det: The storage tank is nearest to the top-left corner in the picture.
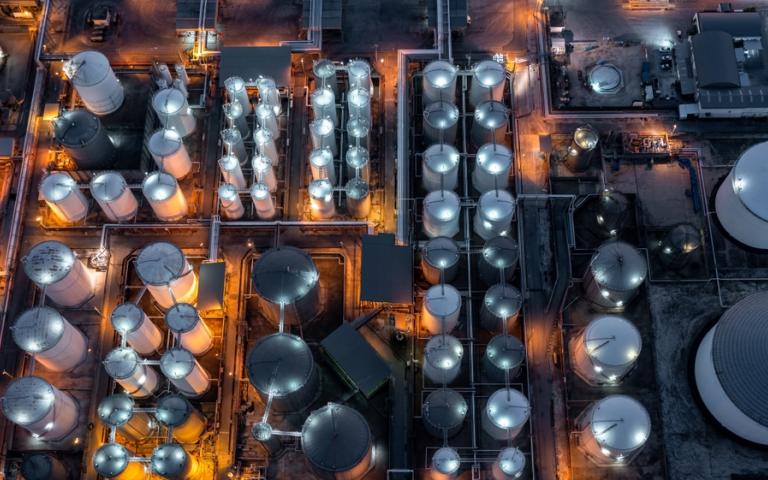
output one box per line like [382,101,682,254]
[69,50,129,113]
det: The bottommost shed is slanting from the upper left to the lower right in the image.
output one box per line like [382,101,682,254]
[320,322,390,404]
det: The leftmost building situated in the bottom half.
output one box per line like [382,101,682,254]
[197,262,228,315]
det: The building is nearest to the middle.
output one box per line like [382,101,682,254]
[362,234,412,311]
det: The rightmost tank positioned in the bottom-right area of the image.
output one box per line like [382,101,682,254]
[684,286,768,460]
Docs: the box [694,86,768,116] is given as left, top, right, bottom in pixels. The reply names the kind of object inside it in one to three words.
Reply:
building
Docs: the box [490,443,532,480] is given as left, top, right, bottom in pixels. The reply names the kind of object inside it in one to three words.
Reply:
storage tank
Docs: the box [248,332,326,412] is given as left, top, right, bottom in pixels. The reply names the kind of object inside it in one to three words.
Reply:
storage tank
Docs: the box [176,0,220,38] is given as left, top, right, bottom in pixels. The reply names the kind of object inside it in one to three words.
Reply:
building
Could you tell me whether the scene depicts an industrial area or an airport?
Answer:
industrial area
